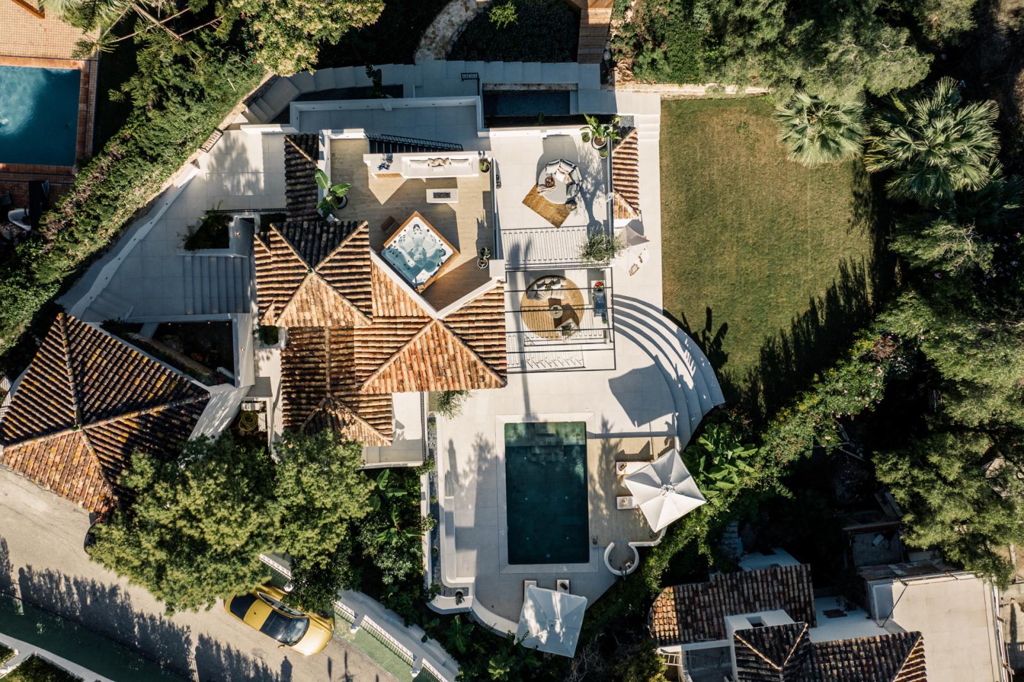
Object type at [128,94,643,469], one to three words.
house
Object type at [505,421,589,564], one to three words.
swimming pool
